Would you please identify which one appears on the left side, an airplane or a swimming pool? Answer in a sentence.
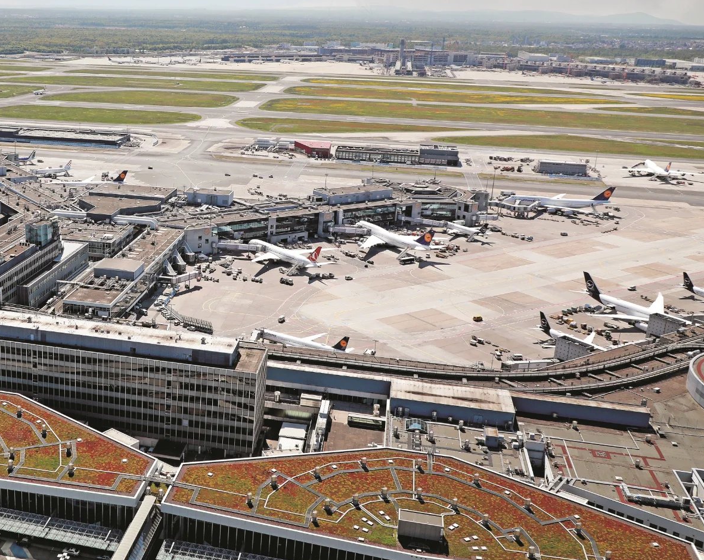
The feature located on the left side is an airplane.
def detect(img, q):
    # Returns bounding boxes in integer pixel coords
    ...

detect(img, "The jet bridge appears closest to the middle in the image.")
[330,226,372,240]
